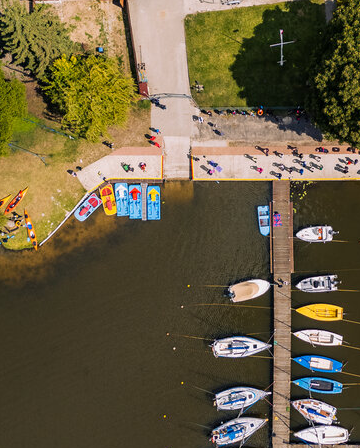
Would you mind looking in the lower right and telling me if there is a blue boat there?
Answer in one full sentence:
Yes, a blue boat can be seen in the lower right.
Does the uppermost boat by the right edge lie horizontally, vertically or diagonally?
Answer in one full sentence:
The uppermost boat by the right edge is laid out horizontally.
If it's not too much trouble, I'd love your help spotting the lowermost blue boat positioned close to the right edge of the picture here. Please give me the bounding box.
[292,377,357,394]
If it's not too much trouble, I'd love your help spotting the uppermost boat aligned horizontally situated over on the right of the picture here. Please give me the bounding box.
[291,223,347,244]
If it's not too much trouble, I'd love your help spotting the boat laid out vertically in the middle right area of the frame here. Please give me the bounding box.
[258,206,273,237]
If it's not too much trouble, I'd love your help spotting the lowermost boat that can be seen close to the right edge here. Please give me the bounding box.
[291,423,350,448]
